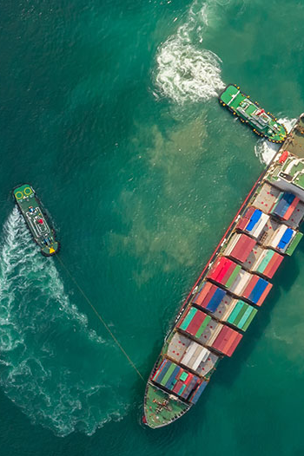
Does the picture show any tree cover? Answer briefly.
No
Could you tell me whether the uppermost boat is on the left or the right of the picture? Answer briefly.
right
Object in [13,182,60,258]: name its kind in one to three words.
boat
